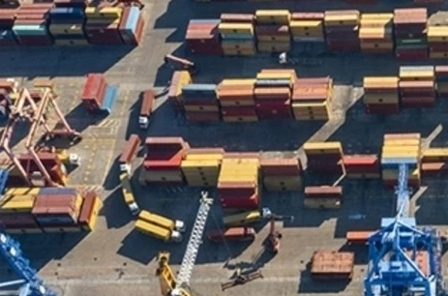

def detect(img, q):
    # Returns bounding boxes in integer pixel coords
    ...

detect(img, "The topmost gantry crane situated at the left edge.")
[0,91,83,167]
